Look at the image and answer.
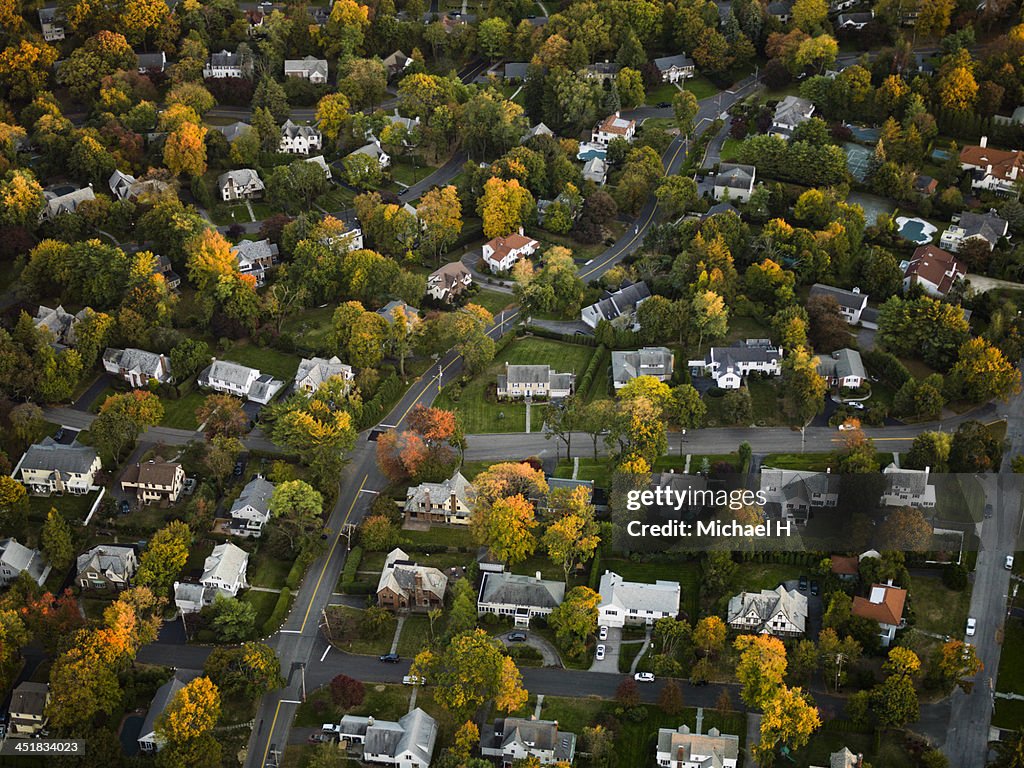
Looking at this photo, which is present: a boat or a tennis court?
tennis court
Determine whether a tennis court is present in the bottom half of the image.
No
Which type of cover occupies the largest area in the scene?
trees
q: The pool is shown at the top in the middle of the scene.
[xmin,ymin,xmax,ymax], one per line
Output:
[577,143,609,161]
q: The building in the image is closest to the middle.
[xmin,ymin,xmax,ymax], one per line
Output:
[494,362,572,399]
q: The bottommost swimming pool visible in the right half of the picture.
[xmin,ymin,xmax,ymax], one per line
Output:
[896,216,937,244]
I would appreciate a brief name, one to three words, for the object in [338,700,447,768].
house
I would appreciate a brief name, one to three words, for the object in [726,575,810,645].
house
